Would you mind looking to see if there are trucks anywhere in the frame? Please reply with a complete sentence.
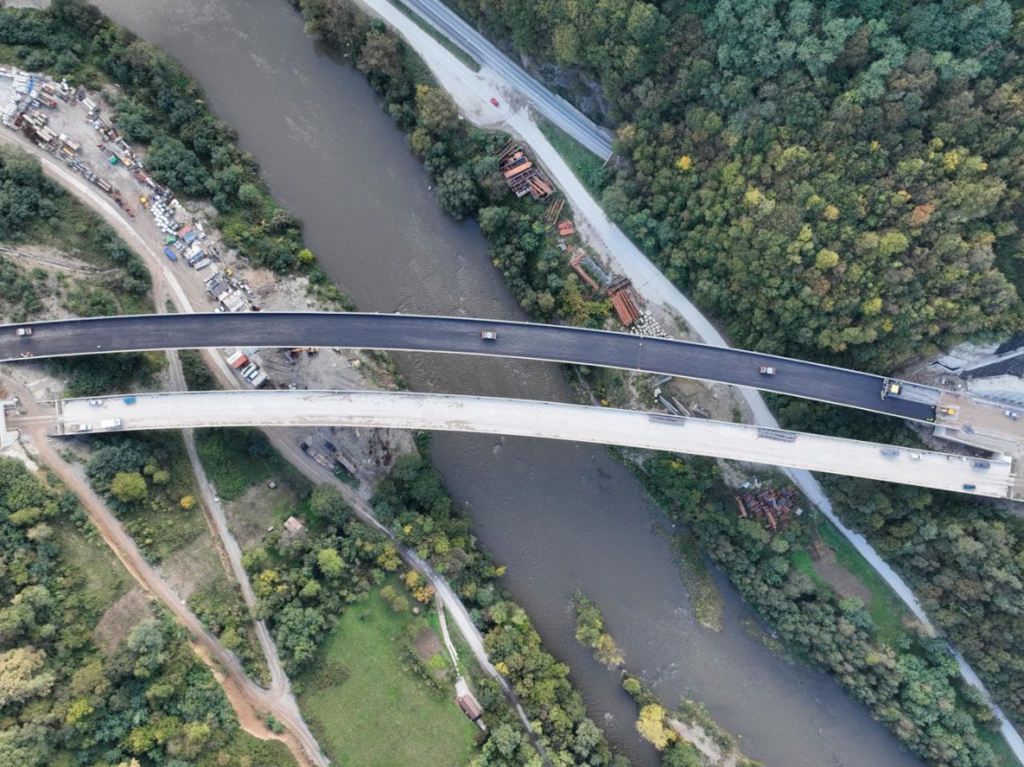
Yes, a truck appears in the view.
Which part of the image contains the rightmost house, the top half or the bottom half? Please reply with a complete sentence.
The rightmost house is in the bottom half of the image.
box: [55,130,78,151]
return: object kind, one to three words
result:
truck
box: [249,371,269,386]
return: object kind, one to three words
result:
vehicle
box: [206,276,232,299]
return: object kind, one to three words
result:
shed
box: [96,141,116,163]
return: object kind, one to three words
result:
vehicle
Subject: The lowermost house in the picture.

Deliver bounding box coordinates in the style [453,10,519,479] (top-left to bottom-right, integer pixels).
[456,692,485,723]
